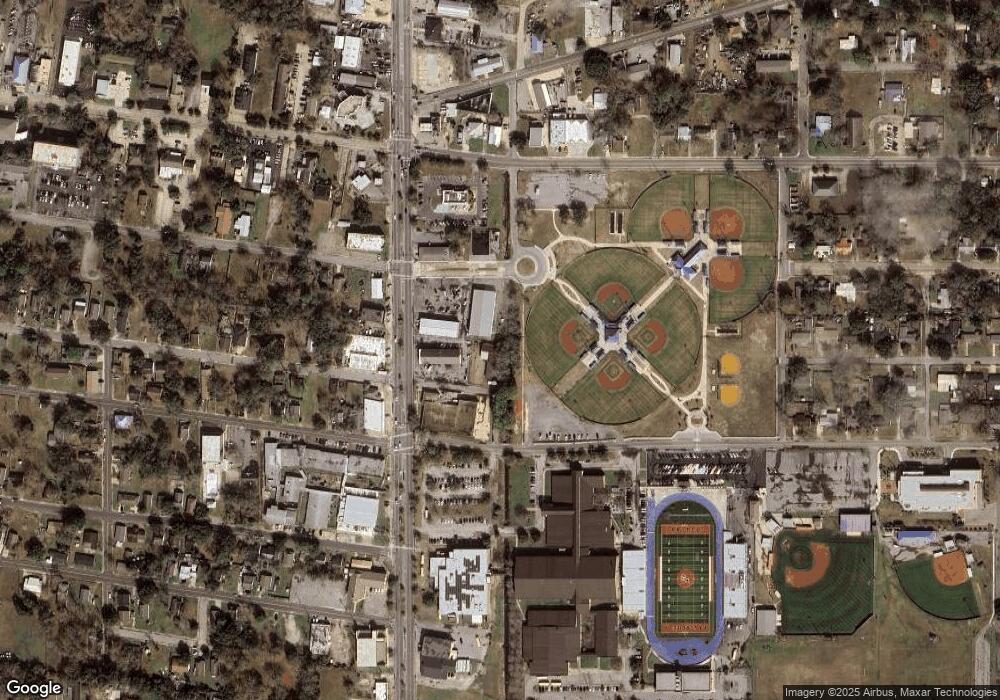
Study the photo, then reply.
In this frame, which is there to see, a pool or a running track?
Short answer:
running track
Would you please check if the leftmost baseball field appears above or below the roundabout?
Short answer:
below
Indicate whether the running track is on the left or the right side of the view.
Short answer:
right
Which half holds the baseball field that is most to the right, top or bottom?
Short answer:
bottom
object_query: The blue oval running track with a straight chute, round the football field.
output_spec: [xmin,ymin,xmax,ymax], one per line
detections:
[646,493,724,664]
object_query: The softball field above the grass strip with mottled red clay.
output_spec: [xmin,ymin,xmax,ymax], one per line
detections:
[708,174,777,242]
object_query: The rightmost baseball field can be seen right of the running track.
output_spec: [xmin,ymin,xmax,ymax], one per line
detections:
[894,550,981,619]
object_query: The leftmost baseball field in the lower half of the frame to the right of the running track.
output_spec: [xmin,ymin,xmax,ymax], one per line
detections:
[772,527,874,634]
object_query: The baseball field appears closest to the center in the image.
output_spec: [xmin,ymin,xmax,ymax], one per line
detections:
[525,283,597,390]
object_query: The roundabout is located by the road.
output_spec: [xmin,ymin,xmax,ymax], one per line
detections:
[506,246,548,289]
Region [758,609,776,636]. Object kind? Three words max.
building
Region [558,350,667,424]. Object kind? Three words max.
baseball field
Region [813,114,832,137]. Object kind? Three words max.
house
